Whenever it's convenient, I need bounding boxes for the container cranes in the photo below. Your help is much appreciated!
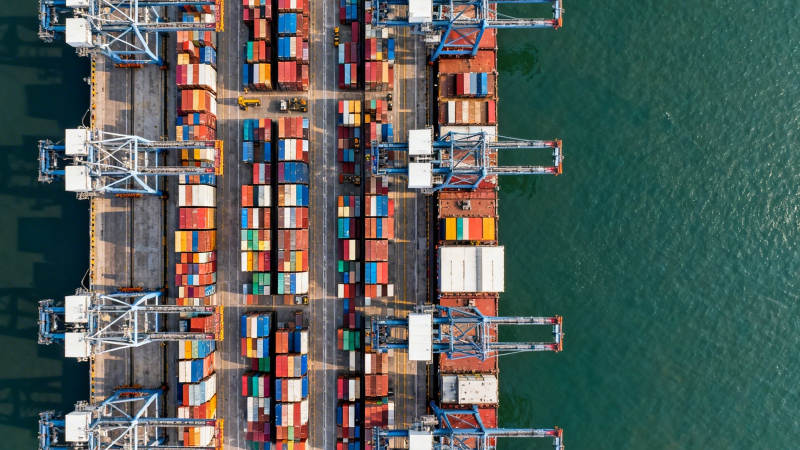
[32,377,225,450]
[32,126,225,200]
[373,0,566,70]
[32,0,225,72]
[32,276,225,357]
[373,388,566,450]
[373,126,566,200]
[373,287,566,360]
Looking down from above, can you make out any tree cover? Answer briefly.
No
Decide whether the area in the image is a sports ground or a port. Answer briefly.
port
